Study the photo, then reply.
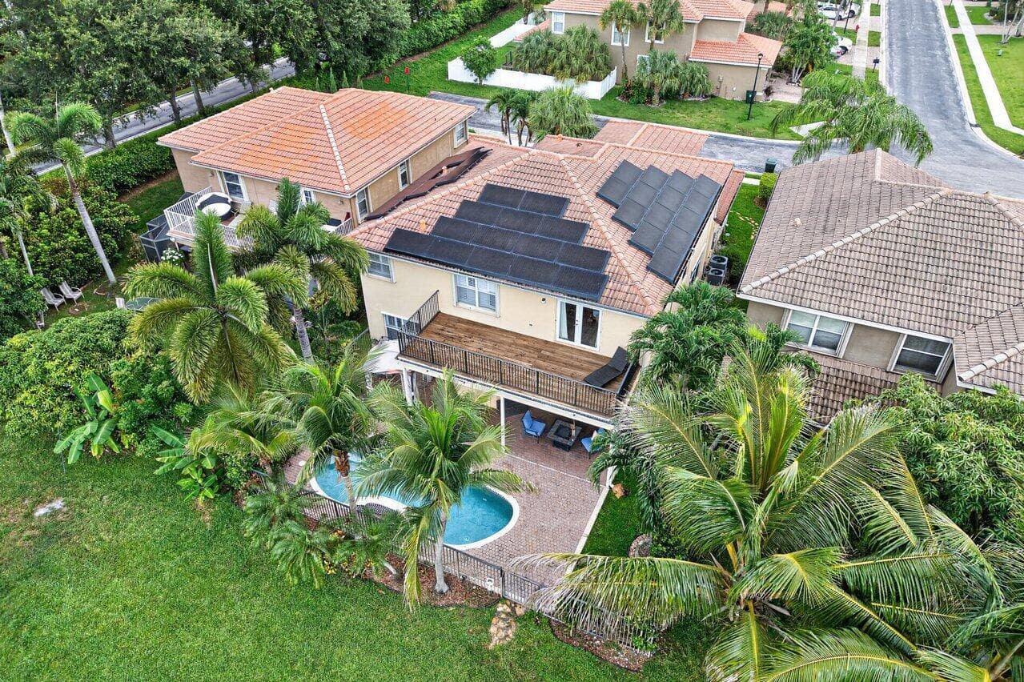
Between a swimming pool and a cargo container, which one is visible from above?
swimming pool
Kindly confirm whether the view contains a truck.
No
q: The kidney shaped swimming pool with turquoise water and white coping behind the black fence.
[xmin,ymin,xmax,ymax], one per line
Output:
[310,444,519,547]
